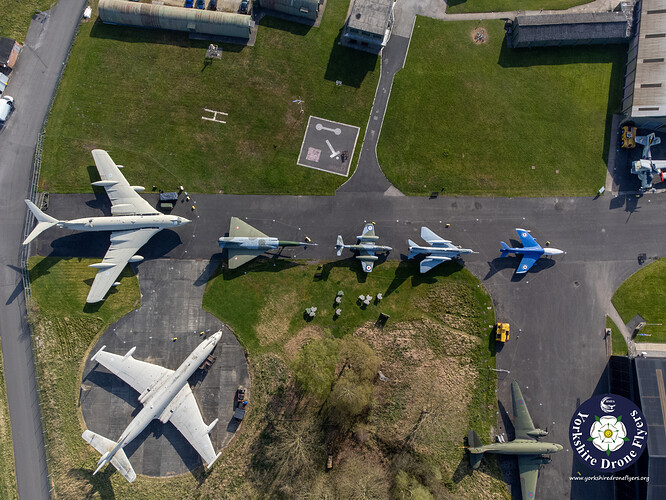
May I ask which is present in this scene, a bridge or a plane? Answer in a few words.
plane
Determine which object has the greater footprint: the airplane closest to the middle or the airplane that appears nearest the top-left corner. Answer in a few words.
the airplane that appears nearest the top-left corner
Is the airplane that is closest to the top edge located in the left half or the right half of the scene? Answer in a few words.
right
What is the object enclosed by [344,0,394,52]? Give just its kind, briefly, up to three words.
building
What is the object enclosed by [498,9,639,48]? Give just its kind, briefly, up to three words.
shed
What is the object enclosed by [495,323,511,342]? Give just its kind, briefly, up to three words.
work vehicle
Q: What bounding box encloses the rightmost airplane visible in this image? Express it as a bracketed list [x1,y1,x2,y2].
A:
[632,129,666,191]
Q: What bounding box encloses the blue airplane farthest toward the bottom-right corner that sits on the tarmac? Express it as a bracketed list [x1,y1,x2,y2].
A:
[500,229,566,273]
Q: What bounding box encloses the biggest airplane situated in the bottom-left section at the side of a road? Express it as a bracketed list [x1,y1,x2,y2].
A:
[81,330,223,482]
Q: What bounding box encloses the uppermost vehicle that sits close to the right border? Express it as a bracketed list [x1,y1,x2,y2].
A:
[620,127,637,149]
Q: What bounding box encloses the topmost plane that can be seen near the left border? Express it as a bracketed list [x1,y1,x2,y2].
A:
[19,150,190,300]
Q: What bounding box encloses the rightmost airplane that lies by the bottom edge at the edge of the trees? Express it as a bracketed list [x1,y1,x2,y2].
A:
[458,380,563,500]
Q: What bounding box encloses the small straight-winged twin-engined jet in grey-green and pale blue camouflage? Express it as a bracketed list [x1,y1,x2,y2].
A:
[336,224,392,273]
